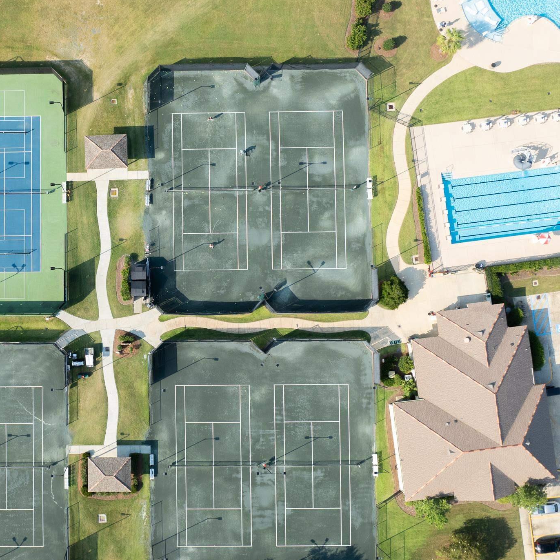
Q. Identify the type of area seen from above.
sports ground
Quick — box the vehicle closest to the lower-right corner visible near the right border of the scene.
[535,538,560,555]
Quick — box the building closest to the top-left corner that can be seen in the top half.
[84,134,129,172]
